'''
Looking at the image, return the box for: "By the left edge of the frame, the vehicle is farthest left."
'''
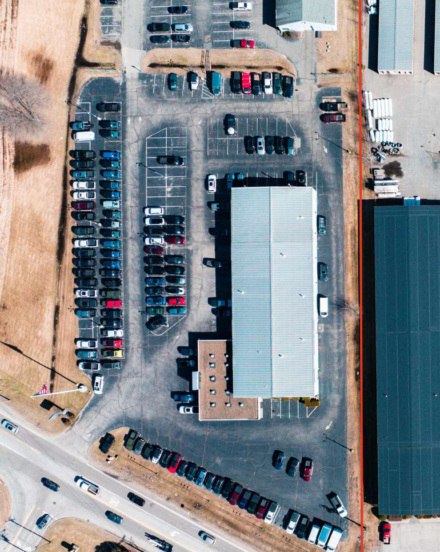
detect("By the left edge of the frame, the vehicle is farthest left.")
[1,419,20,433]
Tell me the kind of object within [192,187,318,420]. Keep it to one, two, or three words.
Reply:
building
